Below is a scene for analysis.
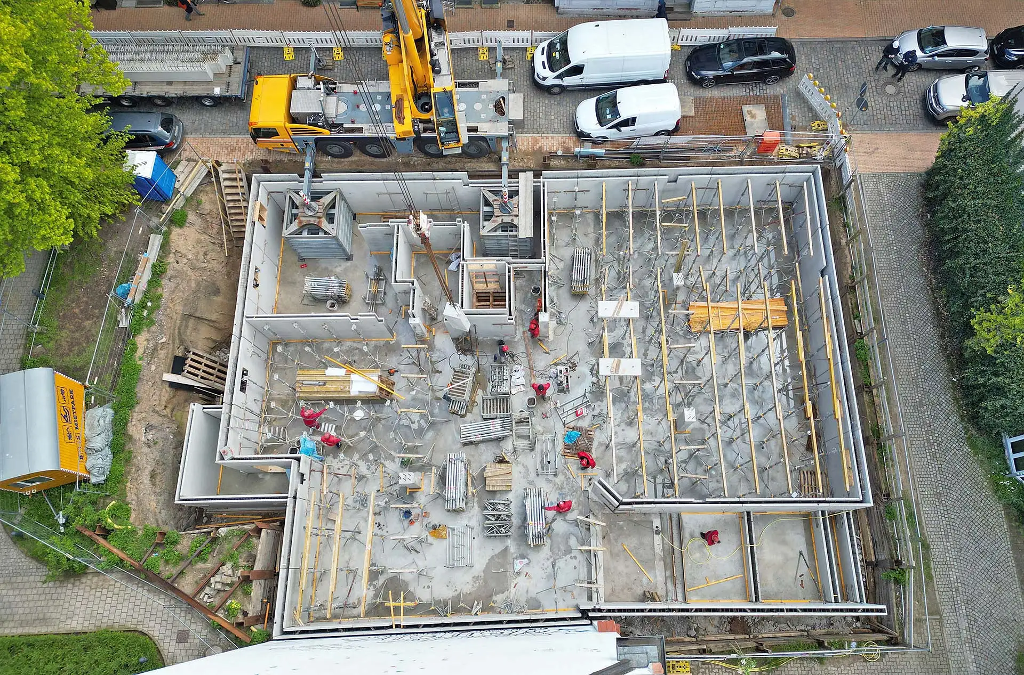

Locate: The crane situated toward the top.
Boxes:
[245,0,523,217]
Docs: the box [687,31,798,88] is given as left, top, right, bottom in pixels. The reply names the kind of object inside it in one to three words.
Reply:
car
